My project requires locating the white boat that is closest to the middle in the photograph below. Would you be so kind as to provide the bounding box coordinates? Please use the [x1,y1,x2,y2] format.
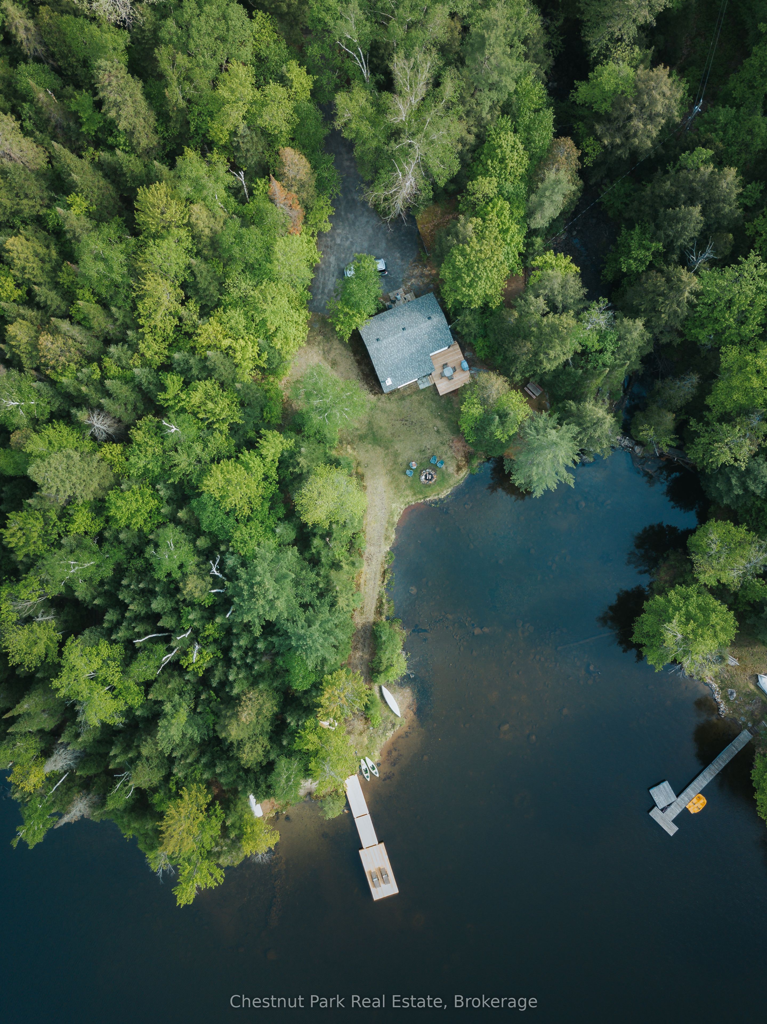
[381,685,401,718]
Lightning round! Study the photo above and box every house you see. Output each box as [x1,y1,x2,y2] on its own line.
[360,292,454,394]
